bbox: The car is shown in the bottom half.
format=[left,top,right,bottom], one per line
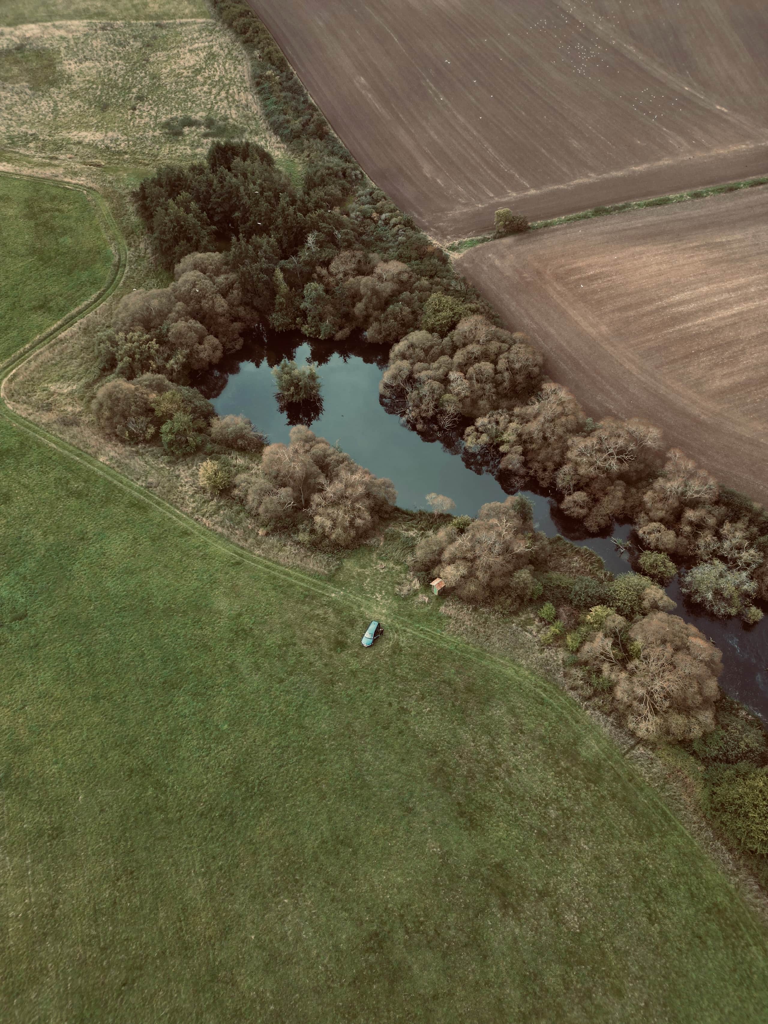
[361,621,380,647]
